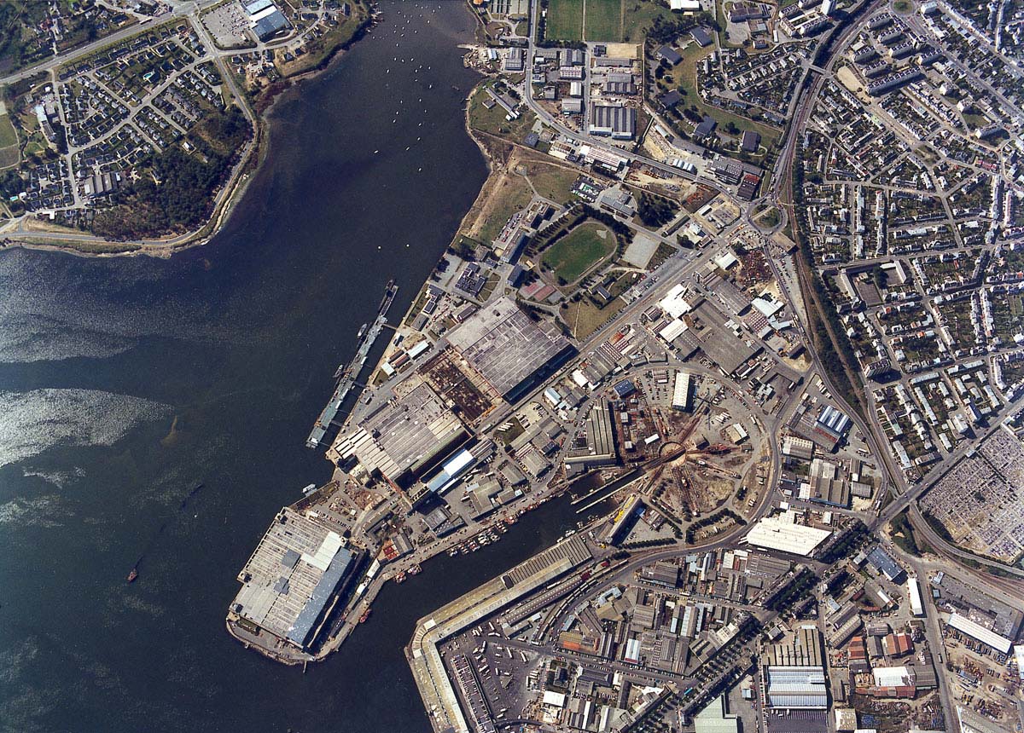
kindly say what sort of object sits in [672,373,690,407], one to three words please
building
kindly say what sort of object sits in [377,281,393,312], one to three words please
ship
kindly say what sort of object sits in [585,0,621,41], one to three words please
sports field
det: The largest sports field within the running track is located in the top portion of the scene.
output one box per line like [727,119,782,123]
[546,225,615,280]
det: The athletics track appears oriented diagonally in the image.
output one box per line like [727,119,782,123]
[542,221,618,284]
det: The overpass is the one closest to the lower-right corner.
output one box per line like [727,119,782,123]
[881,477,931,519]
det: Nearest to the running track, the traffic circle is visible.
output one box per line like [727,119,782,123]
[745,198,790,236]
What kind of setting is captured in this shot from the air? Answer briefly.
port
